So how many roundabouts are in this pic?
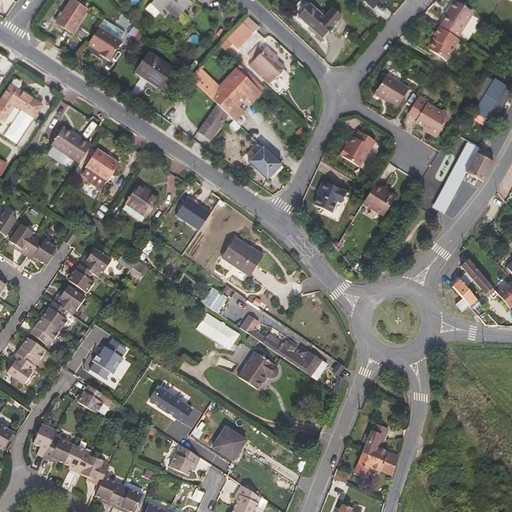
1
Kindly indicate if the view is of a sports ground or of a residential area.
residential area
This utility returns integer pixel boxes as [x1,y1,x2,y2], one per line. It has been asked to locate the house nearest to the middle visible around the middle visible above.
[222,236,263,276]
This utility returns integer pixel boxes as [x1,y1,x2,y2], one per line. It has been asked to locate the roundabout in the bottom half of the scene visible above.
[354,278,440,364]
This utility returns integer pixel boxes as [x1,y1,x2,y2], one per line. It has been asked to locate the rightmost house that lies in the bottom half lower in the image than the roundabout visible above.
[354,424,398,482]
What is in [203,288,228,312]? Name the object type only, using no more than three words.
greenhouse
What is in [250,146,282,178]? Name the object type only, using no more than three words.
house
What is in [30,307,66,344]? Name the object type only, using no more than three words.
house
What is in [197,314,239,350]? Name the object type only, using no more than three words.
barn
